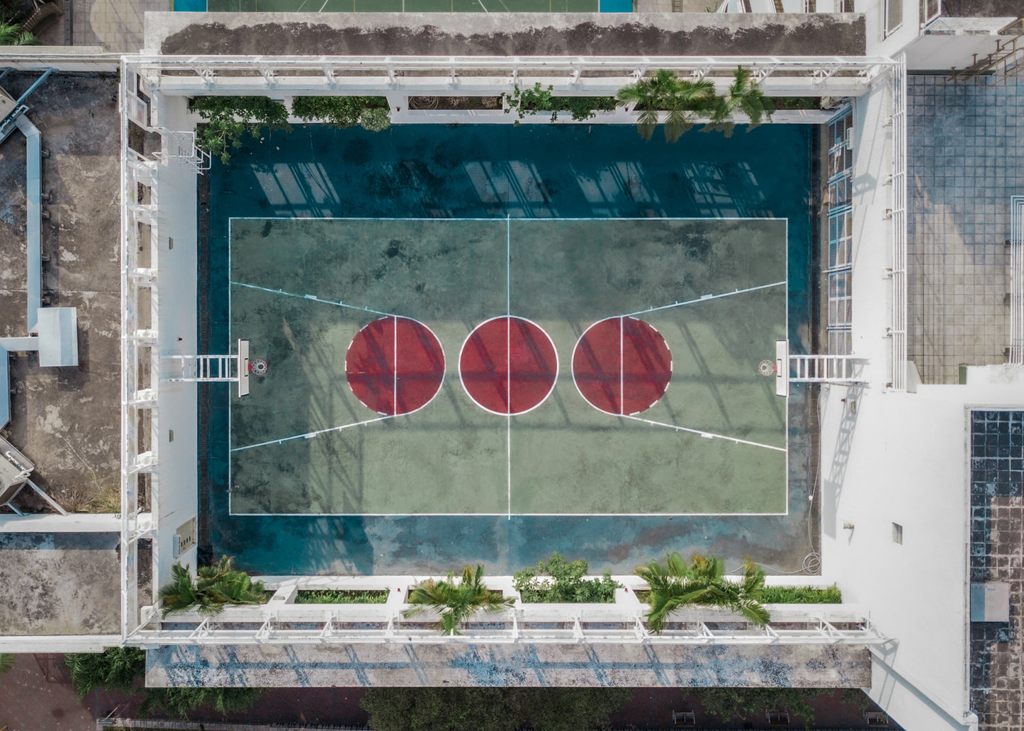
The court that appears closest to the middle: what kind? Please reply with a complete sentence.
It turns out the court that appears closest to the middle is a basketball court.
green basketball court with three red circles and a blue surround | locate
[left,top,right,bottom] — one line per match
[198,117,821,575]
